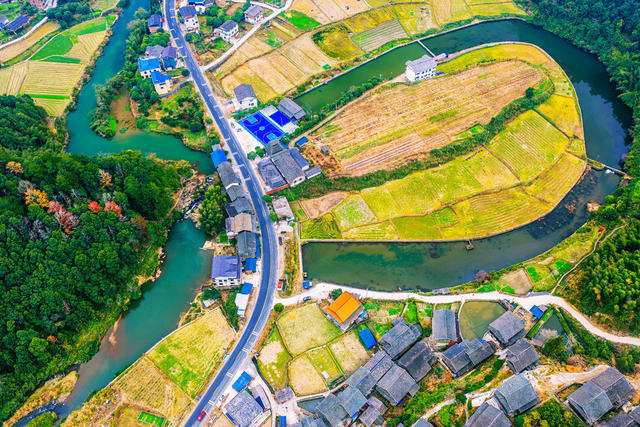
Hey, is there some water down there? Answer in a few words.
Yes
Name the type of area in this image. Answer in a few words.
residential area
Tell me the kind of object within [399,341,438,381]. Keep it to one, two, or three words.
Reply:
house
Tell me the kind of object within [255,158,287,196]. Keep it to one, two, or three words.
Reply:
building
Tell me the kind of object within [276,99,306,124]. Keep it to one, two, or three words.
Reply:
shed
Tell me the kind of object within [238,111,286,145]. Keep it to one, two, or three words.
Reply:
basketball court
